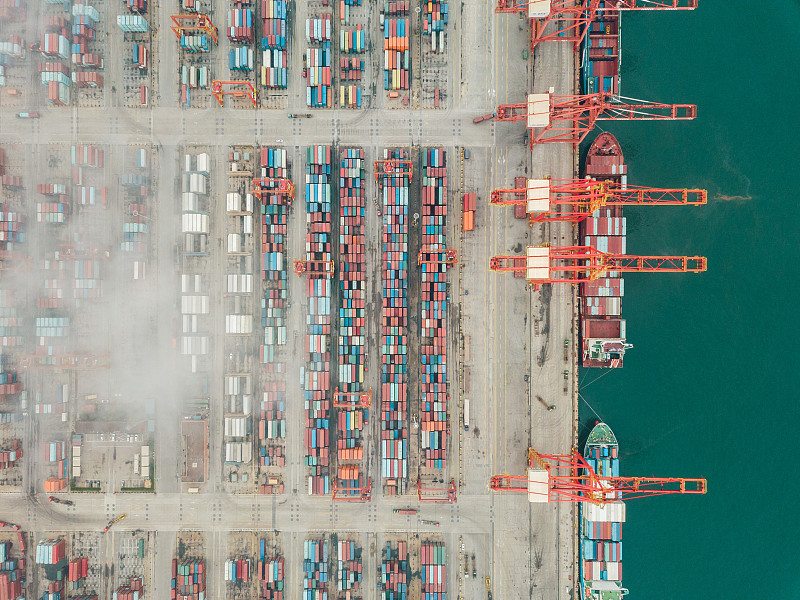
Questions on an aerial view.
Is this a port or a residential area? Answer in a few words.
port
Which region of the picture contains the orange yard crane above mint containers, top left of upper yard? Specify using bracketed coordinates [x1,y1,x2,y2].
[170,14,217,45]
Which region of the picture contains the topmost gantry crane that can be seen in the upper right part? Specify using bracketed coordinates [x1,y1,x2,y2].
[495,0,698,55]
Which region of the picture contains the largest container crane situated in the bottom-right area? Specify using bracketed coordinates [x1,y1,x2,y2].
[488,444,708,503]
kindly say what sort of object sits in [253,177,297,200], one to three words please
crane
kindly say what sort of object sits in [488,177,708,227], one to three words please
container crane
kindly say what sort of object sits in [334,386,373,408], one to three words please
crane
